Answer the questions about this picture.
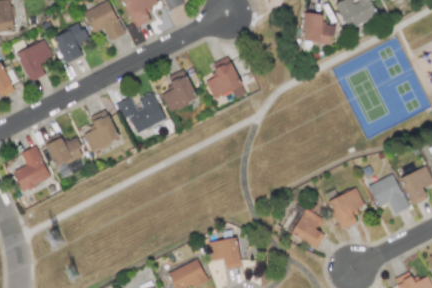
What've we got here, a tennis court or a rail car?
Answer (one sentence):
The one in the frame is a tennis court.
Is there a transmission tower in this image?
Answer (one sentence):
Yes, there's a transmission tower down there.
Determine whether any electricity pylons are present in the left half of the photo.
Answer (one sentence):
Yes, you'll find an electricity pylon in the left half of the photo.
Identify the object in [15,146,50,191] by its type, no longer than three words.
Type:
house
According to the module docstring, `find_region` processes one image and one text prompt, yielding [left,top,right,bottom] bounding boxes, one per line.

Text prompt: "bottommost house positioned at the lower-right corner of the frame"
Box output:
[398,272,432,288]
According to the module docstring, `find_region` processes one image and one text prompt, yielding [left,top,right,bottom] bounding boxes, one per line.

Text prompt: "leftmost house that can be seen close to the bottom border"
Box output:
[171,259,210,288]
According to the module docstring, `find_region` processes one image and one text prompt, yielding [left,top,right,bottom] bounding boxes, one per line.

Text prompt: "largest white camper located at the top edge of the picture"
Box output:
[324,6,336,24]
